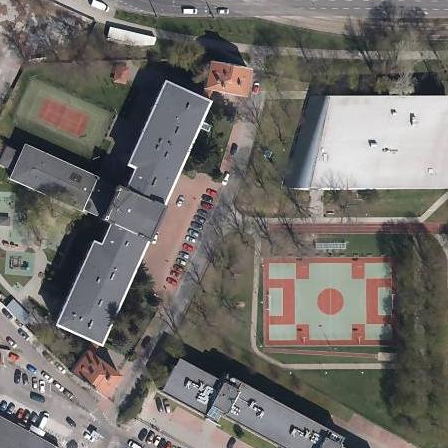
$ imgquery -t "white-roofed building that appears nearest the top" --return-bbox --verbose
[105,26,156,47]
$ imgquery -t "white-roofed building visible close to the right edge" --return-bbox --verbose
[287,87,448,189]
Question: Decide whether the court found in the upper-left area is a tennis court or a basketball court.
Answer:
tennis court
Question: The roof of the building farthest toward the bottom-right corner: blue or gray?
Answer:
gray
